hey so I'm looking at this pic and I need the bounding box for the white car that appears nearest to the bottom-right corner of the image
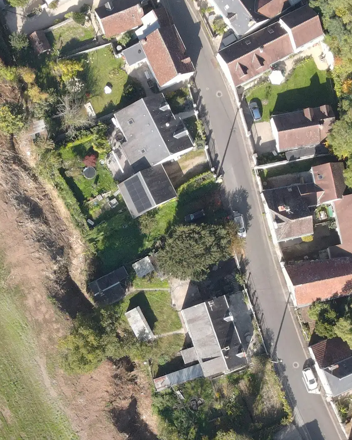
[300,365,318,393]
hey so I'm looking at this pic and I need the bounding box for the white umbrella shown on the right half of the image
[270,65,290,83]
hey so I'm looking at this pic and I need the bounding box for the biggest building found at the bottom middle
[178,296,249,378]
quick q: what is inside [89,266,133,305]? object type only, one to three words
shed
